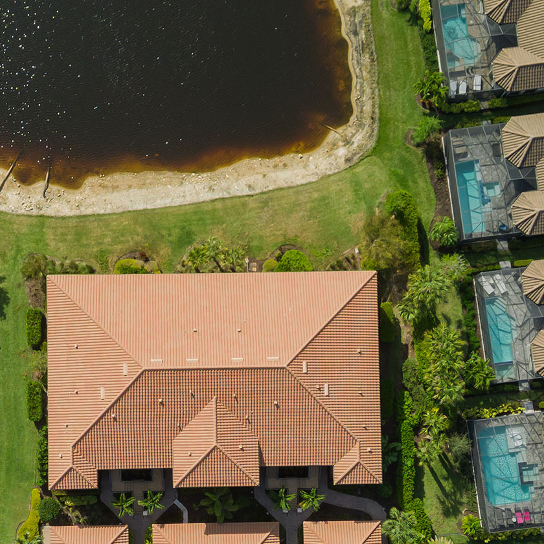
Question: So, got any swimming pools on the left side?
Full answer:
No, looking on the left side, there is no swimming pool.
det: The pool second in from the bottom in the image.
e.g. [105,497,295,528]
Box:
[485,295,519,379]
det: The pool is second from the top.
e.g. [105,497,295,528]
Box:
[455,158,505,233]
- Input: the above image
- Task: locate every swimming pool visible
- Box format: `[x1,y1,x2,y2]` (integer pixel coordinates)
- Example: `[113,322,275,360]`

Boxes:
[455,158,505,233]
[439,1,483,67]
[478,425,541,506]
[485,295,519,379]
